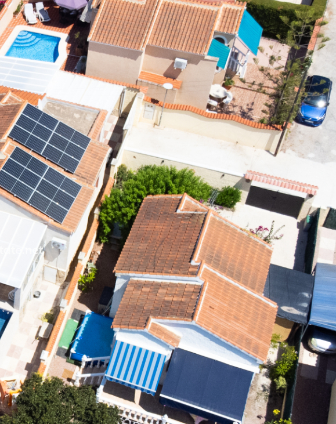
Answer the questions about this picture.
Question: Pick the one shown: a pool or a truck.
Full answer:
The one in the frame is a pool.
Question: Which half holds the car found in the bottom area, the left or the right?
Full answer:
The car found in the bottom area sits on the right side.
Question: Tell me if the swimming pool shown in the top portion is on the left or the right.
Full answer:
The swimming pool shown in the top portion appears in the left half of the scene.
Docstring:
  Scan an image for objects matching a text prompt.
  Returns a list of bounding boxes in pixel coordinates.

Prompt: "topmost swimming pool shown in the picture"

[0,25,69,67]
